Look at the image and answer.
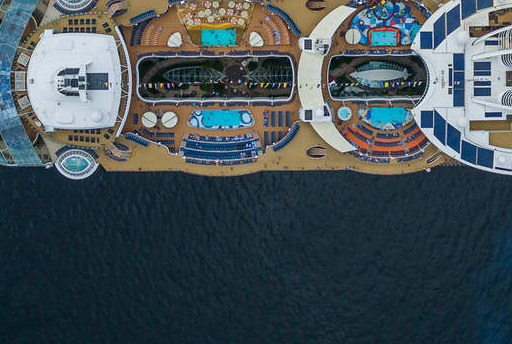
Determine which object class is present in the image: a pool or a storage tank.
pool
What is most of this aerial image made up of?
water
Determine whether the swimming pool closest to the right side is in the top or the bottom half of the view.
top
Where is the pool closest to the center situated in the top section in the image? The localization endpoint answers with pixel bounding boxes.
[188,108,256,131]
